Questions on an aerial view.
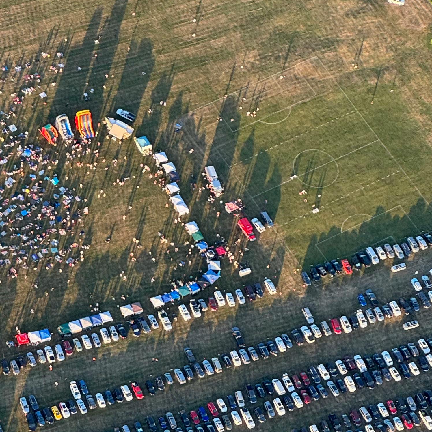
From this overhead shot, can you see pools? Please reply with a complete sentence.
No, the photo shows no pool.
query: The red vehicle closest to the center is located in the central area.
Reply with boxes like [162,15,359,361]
[236,218,254,243]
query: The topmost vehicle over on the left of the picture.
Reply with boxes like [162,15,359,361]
[117,109,135,122]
